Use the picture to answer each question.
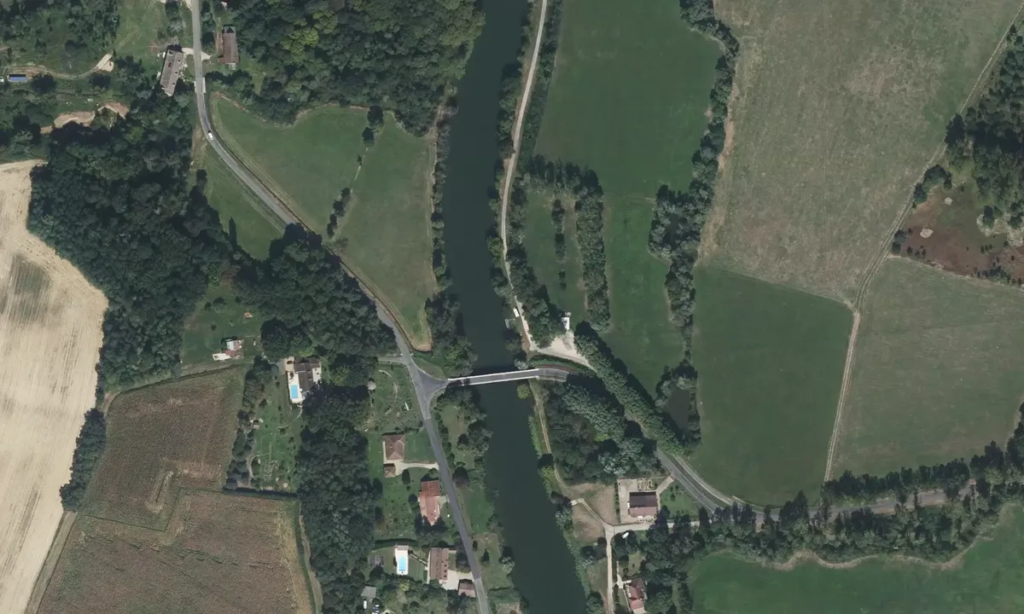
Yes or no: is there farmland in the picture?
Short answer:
Yes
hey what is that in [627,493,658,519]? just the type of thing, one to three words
house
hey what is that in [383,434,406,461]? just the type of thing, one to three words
house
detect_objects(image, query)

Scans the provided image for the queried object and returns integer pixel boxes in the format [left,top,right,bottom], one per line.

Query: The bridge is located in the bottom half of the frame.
[446,369,541,387]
